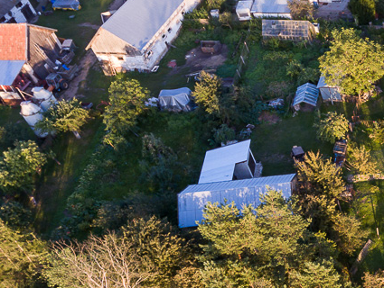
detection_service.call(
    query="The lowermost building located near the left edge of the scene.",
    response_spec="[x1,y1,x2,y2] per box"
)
[0,20,58,94]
